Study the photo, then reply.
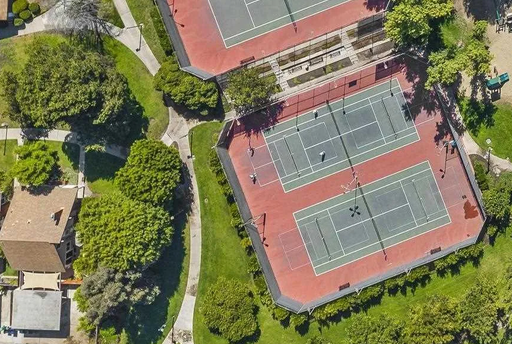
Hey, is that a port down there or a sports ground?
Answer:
sports ground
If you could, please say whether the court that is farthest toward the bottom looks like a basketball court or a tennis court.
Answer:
tennis court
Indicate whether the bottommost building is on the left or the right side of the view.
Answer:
left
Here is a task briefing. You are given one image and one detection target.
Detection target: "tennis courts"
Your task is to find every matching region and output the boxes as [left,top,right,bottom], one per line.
[228,57,454,217]
[252,139,483,307]
[166,0,388,75]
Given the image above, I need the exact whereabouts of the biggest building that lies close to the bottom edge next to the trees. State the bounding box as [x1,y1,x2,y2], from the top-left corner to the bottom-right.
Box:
[12,287,71,331]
